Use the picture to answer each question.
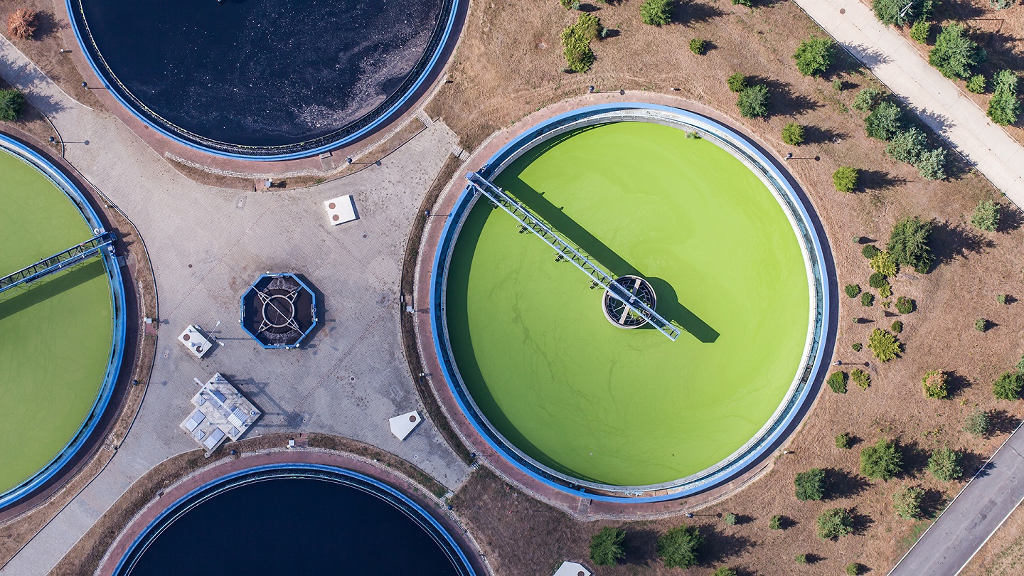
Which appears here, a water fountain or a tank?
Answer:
tank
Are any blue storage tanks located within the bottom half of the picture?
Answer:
Yes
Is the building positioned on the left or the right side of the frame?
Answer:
left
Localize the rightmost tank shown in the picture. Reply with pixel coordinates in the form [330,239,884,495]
[430,103,830,503]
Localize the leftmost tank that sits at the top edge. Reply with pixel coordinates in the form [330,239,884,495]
[65,0,459,162]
